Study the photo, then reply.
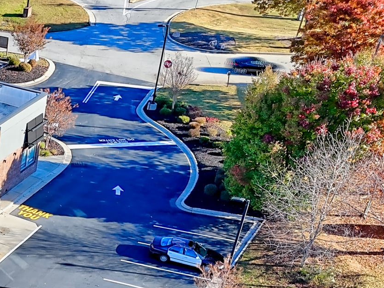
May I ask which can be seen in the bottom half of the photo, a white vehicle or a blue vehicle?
blue vehicle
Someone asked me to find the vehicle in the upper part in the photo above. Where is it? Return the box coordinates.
[229,56,271,75]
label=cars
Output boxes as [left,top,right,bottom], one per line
[150,234,227,271]
[229,56,271,75]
